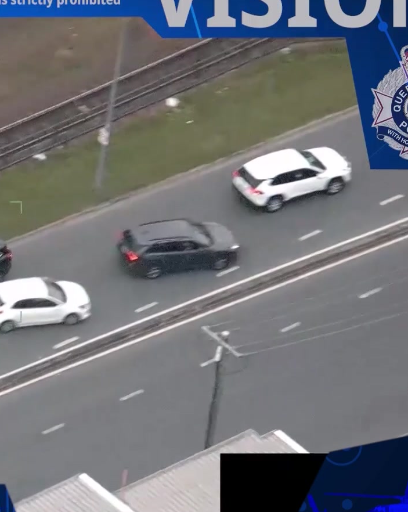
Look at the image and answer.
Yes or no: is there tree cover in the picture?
No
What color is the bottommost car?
white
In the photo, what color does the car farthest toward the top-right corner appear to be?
white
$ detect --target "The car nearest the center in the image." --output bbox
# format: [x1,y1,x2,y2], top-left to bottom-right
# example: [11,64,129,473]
[119,215,238,279]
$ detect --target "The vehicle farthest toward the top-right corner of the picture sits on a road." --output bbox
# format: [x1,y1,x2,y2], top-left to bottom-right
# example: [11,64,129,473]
[232,142,353,214]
